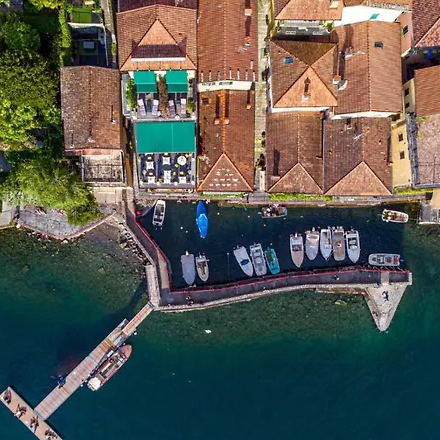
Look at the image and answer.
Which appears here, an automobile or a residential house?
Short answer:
residential house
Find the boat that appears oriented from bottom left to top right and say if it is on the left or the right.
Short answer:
left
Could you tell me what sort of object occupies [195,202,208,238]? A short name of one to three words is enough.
boat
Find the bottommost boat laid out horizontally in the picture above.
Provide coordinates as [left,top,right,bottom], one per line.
[368,253,404,266]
